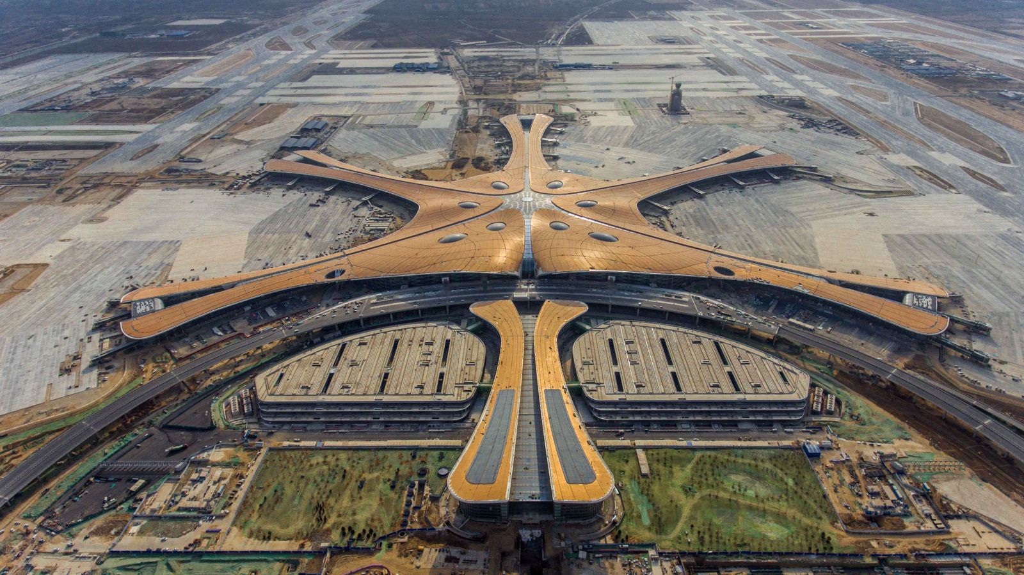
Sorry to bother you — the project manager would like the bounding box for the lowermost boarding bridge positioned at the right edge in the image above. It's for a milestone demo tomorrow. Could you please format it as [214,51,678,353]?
[933,334,1000,364]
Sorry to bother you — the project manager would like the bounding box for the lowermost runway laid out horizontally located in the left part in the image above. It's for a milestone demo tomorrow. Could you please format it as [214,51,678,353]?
[0,53,128,100]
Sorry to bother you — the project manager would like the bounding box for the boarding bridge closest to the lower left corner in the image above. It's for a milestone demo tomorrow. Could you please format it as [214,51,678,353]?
[81,339,135,364]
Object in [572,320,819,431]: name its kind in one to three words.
building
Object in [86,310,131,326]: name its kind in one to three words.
jet bridge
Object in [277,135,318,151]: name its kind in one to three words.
shed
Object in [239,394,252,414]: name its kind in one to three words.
cooling tower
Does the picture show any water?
No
